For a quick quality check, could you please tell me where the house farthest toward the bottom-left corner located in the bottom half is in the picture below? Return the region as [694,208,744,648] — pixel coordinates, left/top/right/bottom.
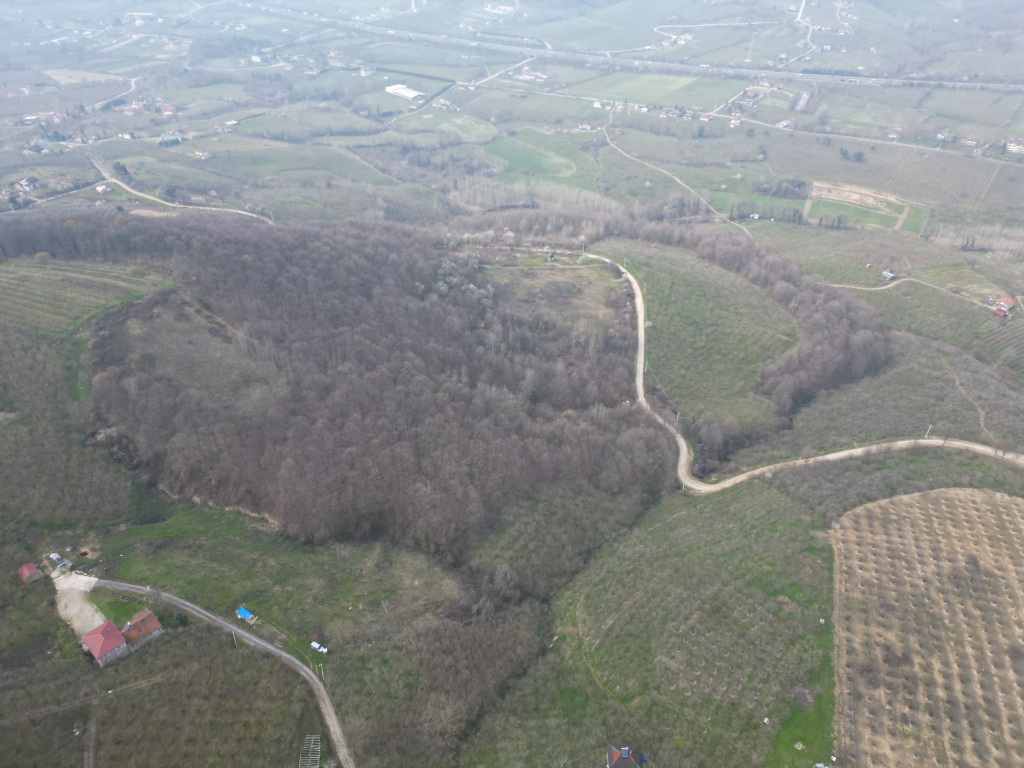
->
[79,620,128,664]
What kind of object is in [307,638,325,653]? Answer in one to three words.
vehicle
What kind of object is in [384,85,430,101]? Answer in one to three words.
building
